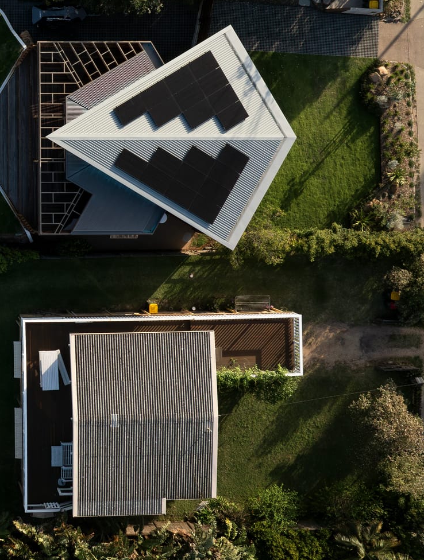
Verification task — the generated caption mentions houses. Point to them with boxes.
[30,26,296,249]
[13,307,303,518]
